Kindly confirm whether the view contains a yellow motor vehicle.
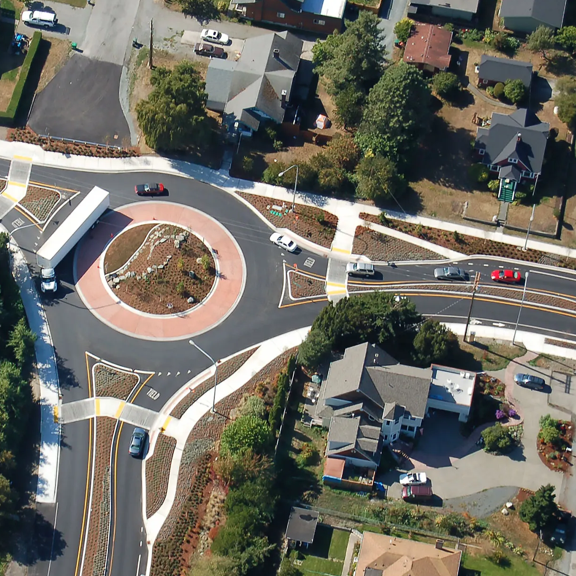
No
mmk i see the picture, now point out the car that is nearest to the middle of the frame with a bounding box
[268,233,301,255]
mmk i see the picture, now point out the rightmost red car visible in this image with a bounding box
[491,270,521,284]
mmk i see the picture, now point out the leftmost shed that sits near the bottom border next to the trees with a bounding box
[287,507,320,551]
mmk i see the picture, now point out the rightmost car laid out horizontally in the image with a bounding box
[513,373,546,390]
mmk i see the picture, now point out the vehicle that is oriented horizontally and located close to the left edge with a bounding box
[23,12,57,27]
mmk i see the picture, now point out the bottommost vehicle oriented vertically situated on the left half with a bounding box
[130,430,146,457]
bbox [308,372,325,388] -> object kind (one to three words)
umbrella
